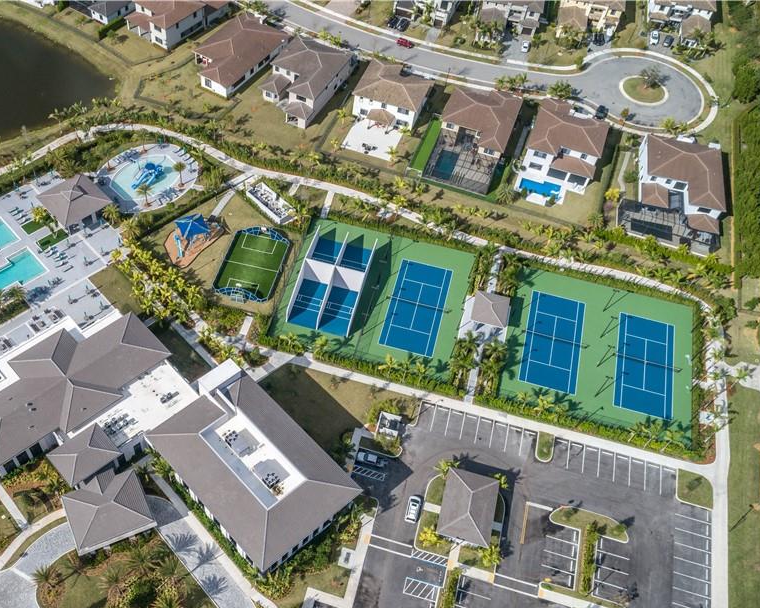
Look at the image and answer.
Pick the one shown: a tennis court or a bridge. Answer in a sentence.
Visible in the photo is a tennis court.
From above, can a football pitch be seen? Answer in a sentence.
Yes, I can see a football pitch in this picture.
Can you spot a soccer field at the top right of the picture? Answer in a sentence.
No, no soccer field is visible at the top right of the picture.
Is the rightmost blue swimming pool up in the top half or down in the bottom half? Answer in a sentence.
The rightmost blue swimming pool sits in the top half of the picture.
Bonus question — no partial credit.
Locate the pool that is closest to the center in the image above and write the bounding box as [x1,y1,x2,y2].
[430,148,460,182]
